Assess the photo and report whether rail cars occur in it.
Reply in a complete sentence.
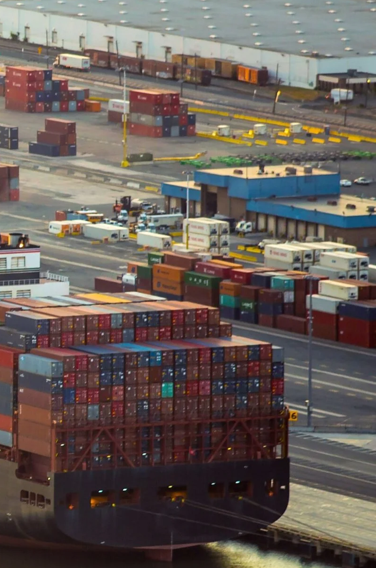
Yes, this view includes a rail car.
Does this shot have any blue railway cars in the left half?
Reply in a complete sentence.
No, no blue railway car is visible in the left half.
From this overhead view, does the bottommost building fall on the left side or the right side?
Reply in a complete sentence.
The bottommost building is on the right side of the image.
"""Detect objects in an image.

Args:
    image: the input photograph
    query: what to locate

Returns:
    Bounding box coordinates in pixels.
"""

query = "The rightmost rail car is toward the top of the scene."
[236,66,267,85]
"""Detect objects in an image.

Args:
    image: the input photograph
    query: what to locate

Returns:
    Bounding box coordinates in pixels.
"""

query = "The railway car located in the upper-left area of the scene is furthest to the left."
[83,46,117,67]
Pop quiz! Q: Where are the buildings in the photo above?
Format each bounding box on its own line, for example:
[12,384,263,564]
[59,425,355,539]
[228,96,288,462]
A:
[161,164,376,251]
[0,0,376,90]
